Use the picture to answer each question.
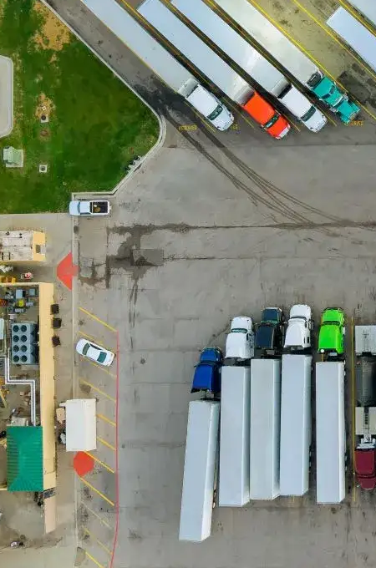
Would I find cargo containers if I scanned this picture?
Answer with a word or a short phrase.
Yes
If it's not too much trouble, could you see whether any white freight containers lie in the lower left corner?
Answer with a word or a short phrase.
Yes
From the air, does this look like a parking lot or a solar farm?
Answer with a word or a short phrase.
parking lot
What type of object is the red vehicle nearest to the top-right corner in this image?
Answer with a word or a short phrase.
truck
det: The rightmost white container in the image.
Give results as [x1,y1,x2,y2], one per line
[66,397,97,451]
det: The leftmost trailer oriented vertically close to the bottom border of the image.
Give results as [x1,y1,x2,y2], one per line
[180,398,221,541]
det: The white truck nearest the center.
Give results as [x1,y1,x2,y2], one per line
[226,316,256,365]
